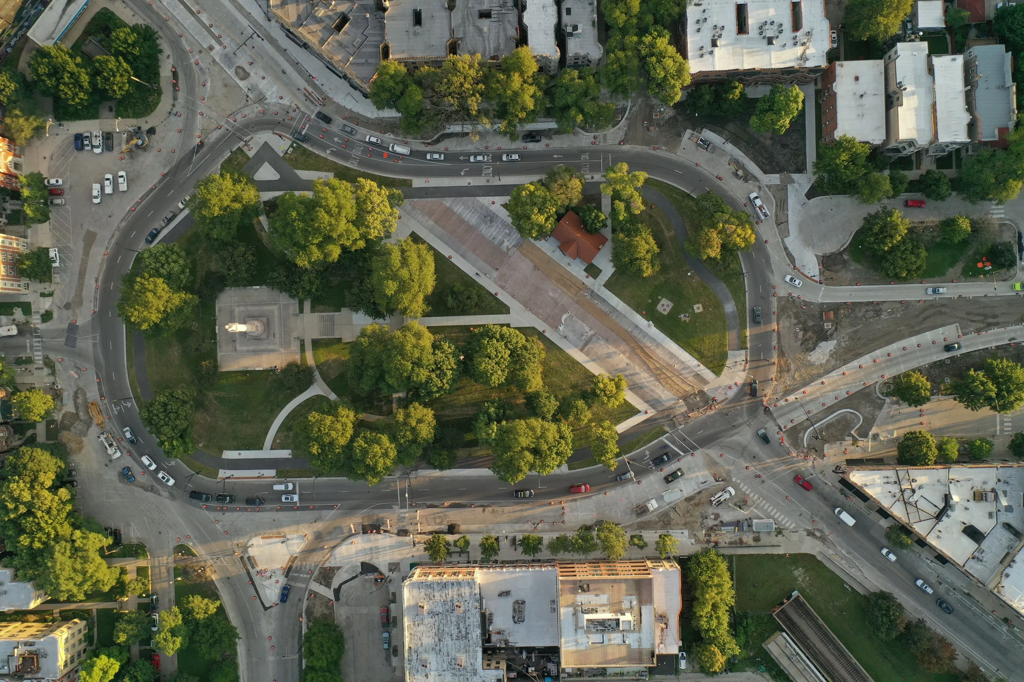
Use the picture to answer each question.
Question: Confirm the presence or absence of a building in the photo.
Yes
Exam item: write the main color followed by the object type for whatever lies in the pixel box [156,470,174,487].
white car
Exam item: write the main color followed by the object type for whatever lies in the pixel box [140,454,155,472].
white car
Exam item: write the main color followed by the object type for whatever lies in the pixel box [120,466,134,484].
blue car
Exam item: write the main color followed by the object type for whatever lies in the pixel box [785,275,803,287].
white vehicle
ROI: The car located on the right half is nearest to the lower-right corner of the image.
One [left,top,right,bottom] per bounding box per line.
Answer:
[937,599,955,615]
